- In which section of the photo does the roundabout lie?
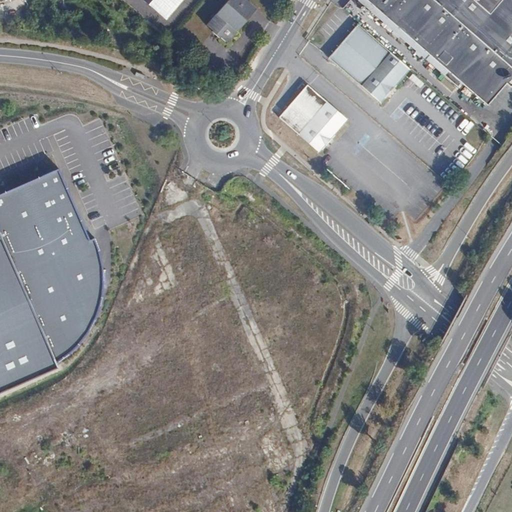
top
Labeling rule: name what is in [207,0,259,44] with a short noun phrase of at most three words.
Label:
house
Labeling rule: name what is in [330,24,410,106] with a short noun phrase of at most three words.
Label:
building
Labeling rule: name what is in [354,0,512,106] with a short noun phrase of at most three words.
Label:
building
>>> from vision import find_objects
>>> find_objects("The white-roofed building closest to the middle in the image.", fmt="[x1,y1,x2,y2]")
[280,85,348,154]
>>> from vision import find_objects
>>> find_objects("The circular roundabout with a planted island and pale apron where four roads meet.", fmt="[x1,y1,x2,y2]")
[190,102,256,168]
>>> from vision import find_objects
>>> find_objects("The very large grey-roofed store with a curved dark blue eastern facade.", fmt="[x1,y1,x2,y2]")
[0,170,105,390]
